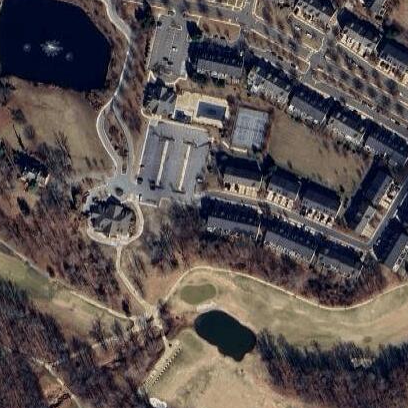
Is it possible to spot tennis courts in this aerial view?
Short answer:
Yes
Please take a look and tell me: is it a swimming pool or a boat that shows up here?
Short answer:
swimming pool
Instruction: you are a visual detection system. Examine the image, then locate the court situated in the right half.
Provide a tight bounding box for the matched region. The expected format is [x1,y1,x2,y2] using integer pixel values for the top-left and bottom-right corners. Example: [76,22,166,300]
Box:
[230,106,268,151]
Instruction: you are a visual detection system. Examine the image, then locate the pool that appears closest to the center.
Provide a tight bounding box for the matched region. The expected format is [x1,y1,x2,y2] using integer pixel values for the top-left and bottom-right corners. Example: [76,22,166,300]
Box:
[174,92,229,128]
